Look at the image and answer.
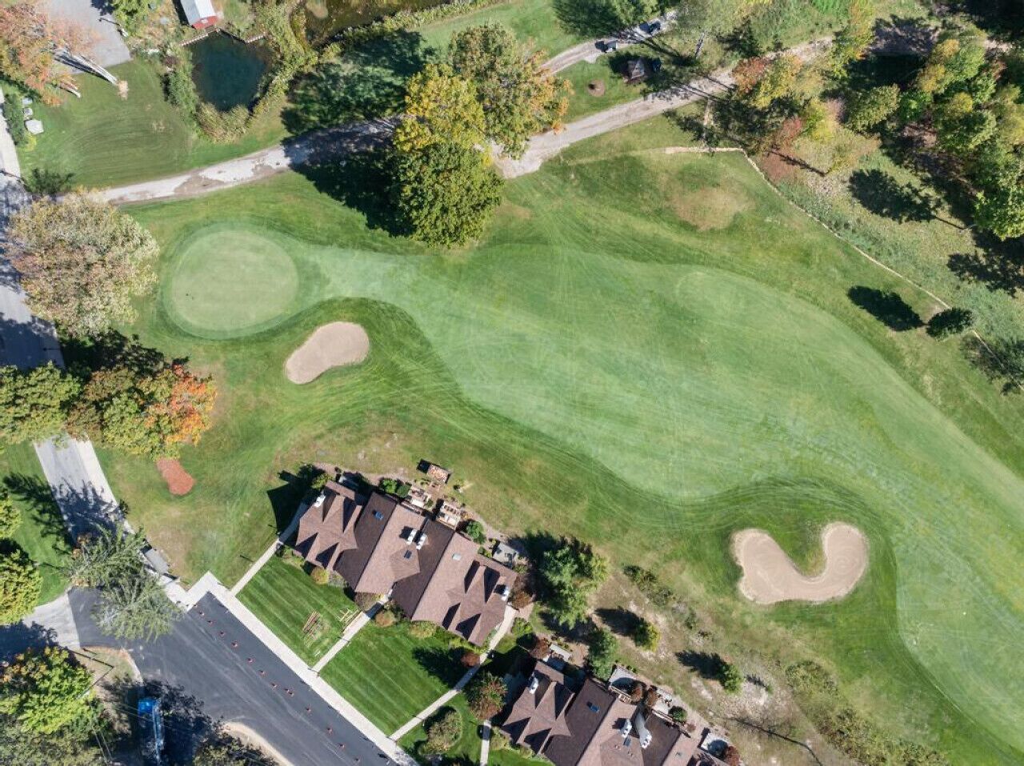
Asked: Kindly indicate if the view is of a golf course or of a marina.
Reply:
golf course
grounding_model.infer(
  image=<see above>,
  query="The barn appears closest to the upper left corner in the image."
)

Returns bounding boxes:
[179,0,218,29]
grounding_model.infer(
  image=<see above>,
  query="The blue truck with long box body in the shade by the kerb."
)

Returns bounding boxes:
[136,693,165,766]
